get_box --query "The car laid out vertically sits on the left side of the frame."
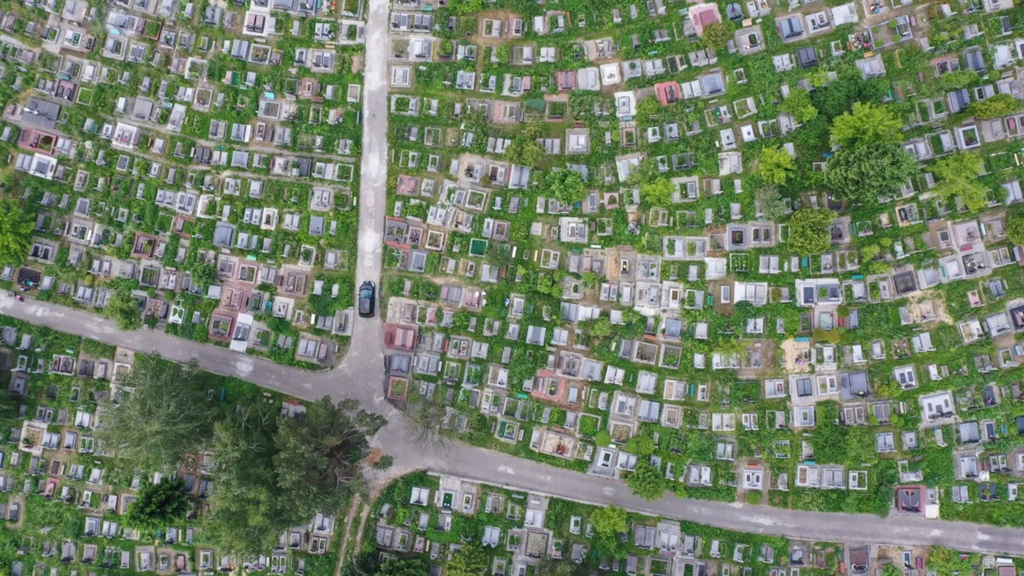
[357,281,376,319]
